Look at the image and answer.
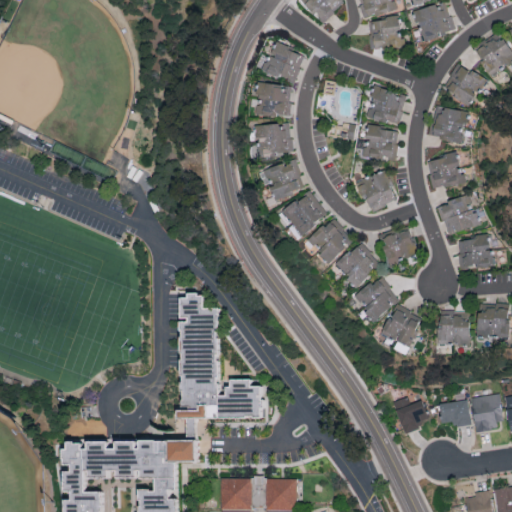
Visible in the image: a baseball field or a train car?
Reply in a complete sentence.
Visible in the photo is a baseball field.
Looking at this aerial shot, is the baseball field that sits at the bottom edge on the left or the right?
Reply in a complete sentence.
It is on the left.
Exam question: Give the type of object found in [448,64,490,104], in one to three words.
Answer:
house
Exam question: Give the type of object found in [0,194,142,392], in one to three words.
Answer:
sports field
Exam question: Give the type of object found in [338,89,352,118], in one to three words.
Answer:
swimming pool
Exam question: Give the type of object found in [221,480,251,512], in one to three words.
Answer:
building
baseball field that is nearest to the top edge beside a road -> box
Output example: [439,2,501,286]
[0,0,134,162]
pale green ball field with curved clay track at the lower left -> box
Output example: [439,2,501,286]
[0,411,44,512]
